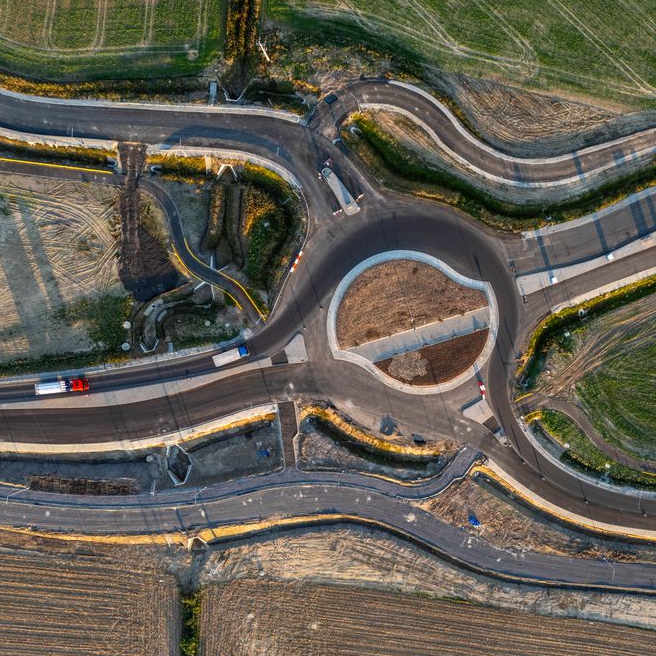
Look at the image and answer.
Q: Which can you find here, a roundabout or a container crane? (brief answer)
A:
roundabout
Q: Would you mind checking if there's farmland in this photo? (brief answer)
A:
Yes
